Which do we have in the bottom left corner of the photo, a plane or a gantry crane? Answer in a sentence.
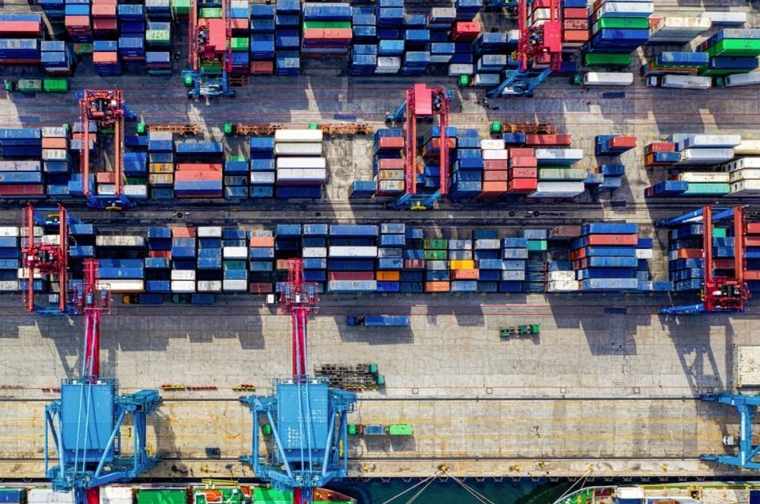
The one visible in the bottom left corner of the photo is a gantry crane.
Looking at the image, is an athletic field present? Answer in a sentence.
No, I can't see a single athletic field in this photo.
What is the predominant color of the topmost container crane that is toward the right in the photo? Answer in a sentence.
The topmost container crane that is toward the right looks red in the image.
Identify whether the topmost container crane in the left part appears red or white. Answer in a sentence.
The color of the topmost container crane in the left part is red.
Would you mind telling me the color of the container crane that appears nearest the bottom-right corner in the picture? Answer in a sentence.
In this view, the container crane that appears nearest the bottom-right corner is blue.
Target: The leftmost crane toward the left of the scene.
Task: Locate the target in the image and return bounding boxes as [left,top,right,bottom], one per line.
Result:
[20,206,89,320]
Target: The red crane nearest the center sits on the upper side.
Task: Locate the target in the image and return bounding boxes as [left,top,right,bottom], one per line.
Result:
[379,81,453,218]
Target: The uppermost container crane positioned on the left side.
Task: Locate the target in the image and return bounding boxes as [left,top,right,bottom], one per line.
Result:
[181,0,237,96]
